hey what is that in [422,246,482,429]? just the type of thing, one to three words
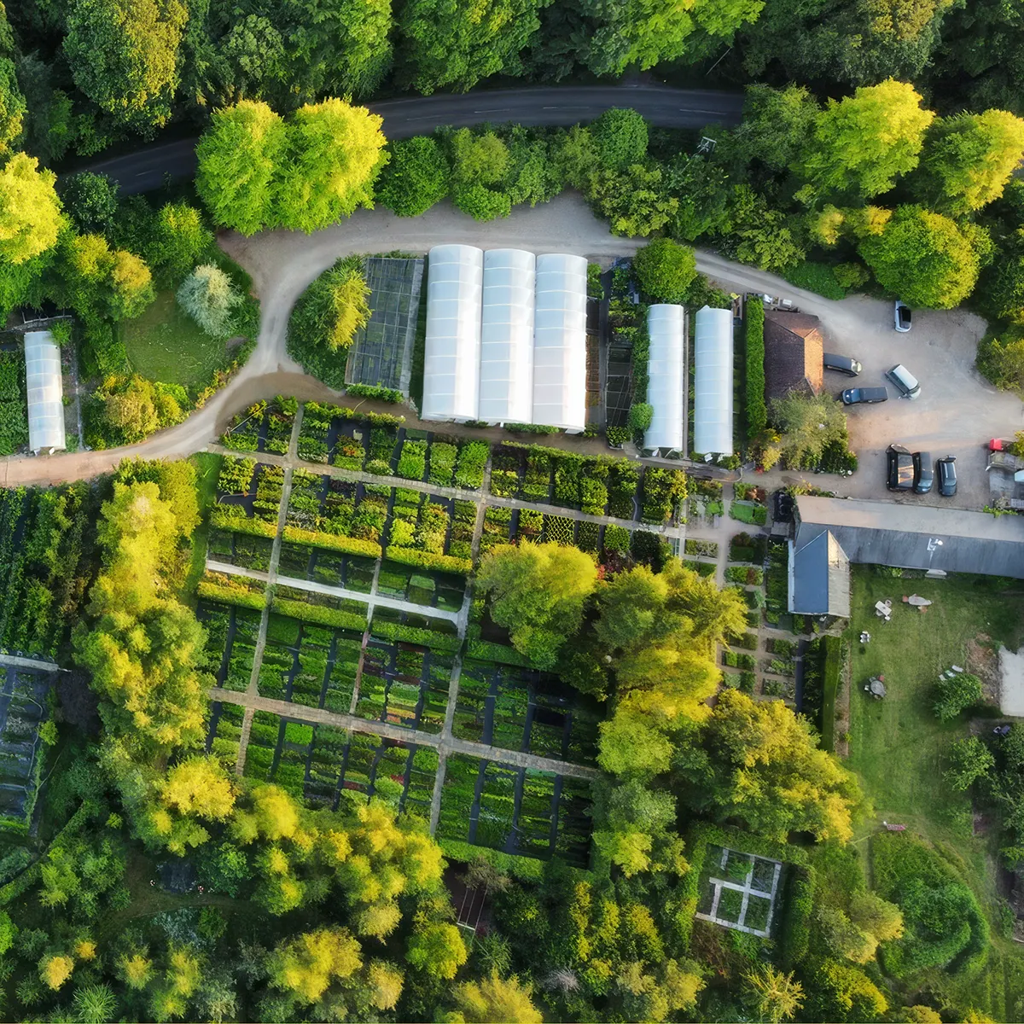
greenhouse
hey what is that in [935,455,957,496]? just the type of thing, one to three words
car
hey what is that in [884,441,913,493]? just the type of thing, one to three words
car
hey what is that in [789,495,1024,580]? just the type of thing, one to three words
barn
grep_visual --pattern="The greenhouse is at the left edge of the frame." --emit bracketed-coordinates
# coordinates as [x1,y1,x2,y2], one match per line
[21,333,65,453]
